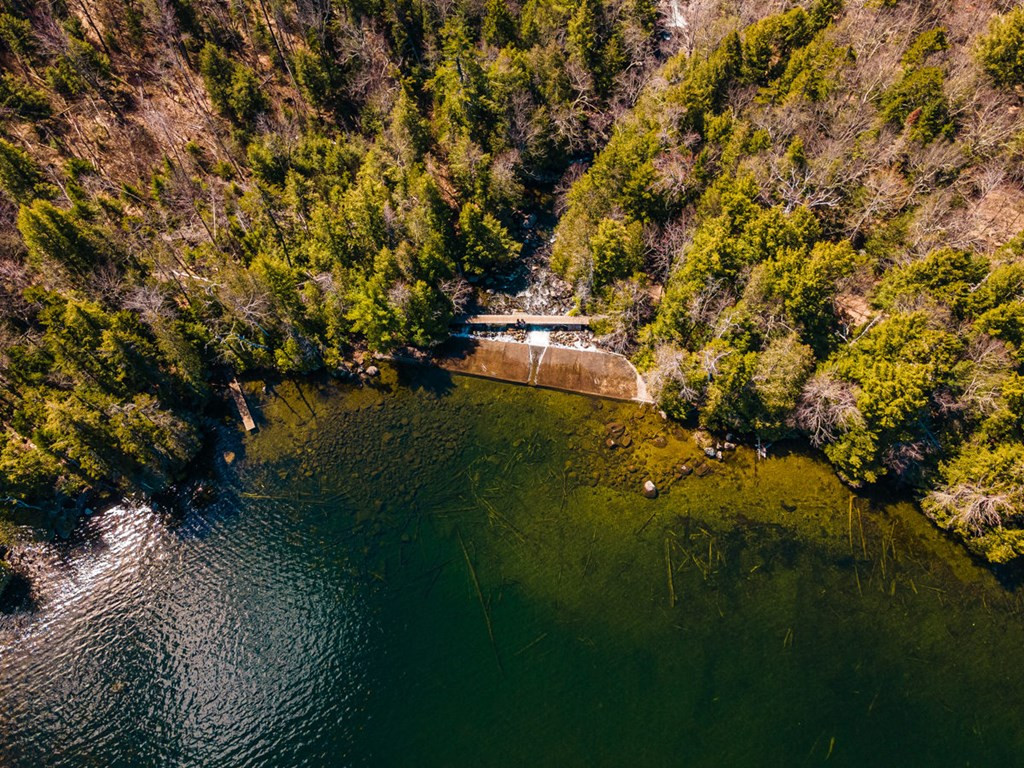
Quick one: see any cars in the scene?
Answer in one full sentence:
No, no car can be seen from above.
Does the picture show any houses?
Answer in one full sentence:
No, I can't see a single house in this photo.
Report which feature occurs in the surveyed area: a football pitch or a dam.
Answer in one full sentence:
The one in the frame is a dam.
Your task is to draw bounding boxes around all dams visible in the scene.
[432,334,655,405]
